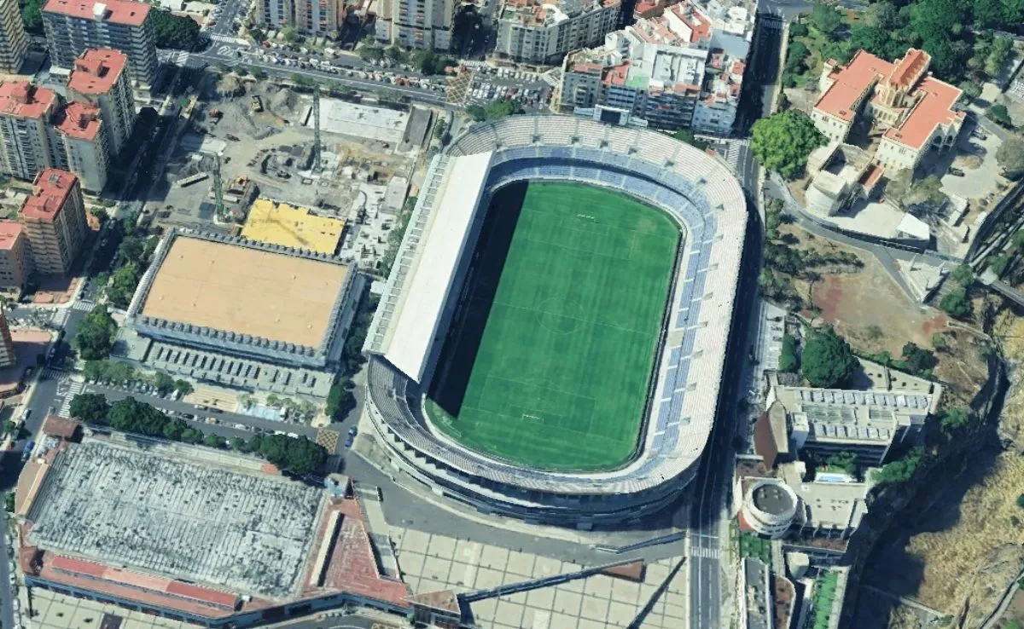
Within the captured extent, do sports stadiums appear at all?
Yes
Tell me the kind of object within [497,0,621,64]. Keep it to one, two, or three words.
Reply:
building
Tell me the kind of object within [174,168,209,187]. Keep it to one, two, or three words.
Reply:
shed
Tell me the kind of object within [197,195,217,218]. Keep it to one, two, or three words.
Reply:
shed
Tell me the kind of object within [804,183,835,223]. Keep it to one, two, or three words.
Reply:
house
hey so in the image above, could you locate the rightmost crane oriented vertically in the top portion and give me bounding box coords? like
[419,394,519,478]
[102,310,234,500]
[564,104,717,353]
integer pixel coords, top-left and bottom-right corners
[305,70,324,174]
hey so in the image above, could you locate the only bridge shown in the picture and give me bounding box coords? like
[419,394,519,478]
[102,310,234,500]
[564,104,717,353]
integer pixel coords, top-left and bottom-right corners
[968,264,1024,323]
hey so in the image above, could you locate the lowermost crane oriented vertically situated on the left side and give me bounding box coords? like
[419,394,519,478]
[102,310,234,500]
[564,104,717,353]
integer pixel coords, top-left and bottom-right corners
[207,147,227,223]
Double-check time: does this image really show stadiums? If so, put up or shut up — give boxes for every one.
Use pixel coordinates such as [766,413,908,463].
[356,113,747,528]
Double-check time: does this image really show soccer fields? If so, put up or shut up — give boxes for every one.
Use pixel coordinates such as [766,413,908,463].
[423,180,681,471]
